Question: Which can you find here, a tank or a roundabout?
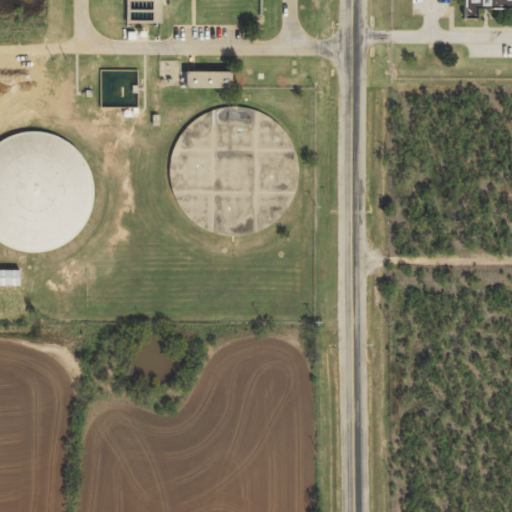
tank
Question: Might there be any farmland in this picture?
Yes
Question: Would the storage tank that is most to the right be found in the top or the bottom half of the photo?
top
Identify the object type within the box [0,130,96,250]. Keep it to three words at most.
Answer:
storage tank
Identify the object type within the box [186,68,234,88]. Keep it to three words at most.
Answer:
building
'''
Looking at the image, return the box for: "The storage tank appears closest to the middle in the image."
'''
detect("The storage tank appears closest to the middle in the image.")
[170,106,300,240]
